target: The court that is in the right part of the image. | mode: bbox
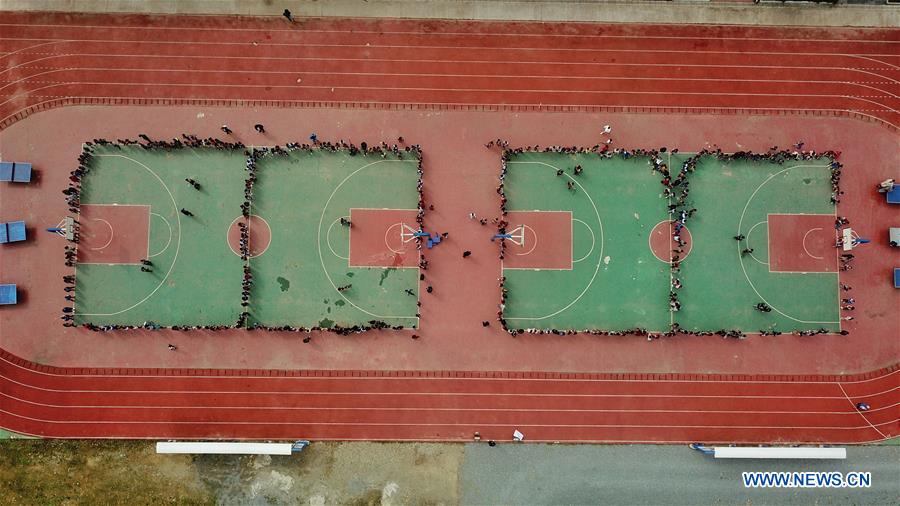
[503,150,840,334]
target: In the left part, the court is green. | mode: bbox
[73,143,421,329]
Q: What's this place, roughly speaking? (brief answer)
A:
sports ground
